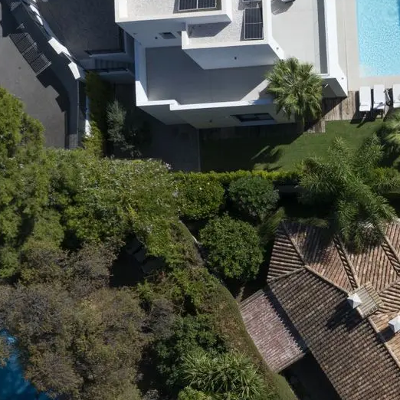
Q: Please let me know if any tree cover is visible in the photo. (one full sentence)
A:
Yes, tree cover shows up in the scene.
